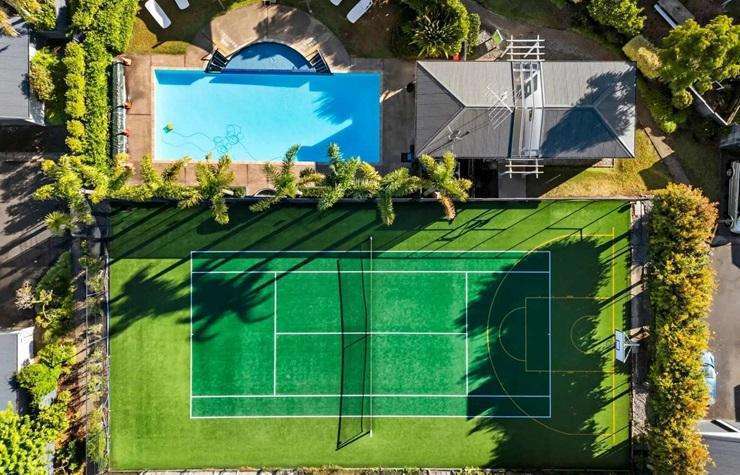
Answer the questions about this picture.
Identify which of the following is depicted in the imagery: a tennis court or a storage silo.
tennis court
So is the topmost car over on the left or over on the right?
right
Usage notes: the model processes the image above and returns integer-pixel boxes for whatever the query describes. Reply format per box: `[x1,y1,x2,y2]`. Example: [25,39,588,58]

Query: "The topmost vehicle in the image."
[716,124,740,153]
